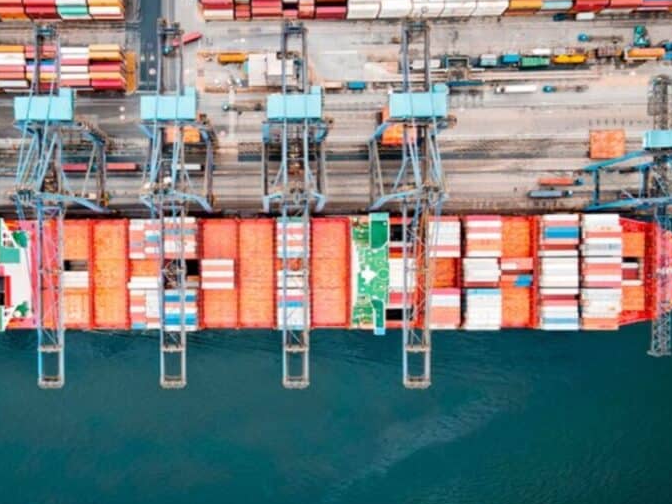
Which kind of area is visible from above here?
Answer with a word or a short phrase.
port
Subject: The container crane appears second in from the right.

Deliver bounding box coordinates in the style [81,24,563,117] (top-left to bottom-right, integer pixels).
[360,16,454,389]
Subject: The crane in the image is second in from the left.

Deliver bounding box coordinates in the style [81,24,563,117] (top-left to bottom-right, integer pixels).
[138,16,221,389]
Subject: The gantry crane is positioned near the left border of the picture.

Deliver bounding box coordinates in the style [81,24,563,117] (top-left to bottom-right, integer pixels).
[13,19,113,389]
